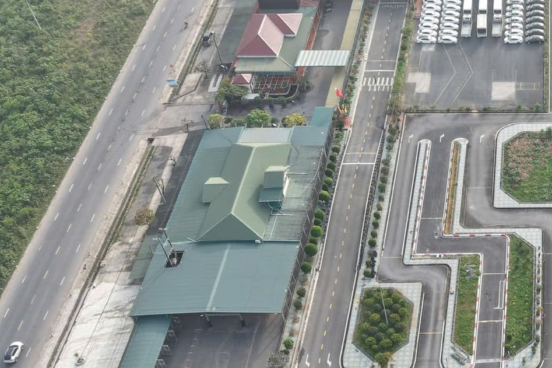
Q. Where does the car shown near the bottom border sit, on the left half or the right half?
left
